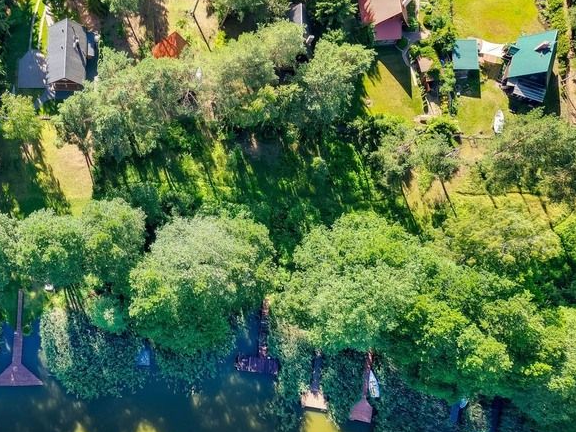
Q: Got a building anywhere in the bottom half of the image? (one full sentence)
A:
No, there's no building to be seen in the bottom half of the image.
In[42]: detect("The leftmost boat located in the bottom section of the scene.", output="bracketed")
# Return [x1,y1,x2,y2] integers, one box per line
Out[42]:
[369,370,381,399]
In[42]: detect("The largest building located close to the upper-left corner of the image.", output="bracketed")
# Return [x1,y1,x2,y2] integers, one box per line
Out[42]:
[46,17,95,85]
